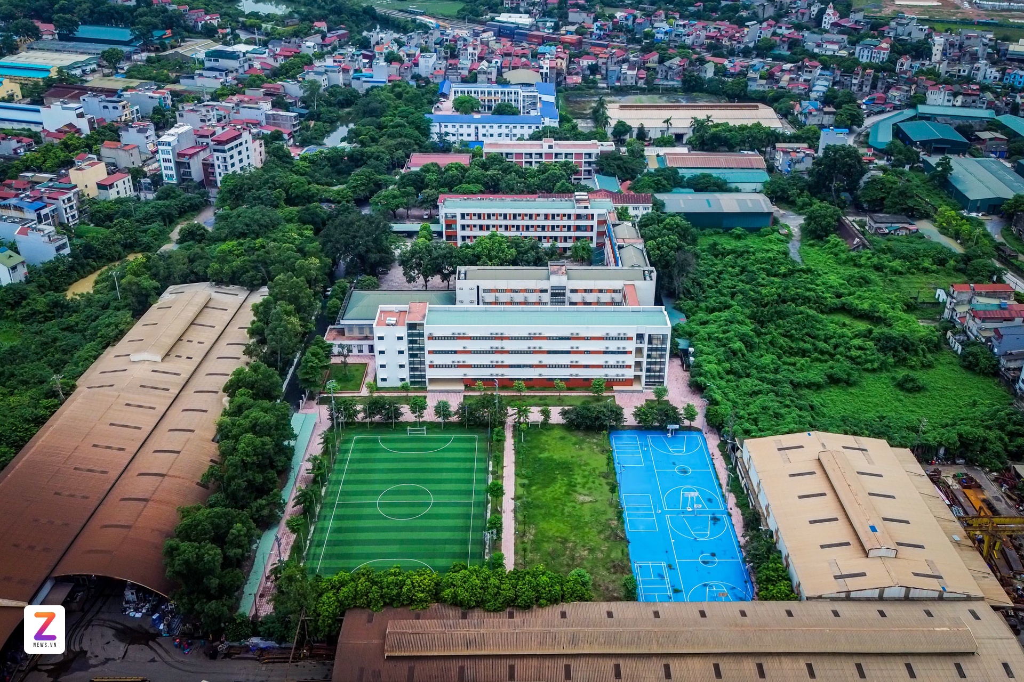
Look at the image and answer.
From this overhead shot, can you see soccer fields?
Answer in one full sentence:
Yes, a soccer field is visible in the scene.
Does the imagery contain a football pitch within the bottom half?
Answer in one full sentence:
Yes, a football pitch can be seen within the bottom half.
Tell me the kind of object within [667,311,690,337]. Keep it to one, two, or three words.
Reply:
shed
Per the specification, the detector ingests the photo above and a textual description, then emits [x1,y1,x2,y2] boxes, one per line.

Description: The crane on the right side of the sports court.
[964,514,1024,547]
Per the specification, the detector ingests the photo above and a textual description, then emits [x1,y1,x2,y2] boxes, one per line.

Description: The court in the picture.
[611,431,761,608]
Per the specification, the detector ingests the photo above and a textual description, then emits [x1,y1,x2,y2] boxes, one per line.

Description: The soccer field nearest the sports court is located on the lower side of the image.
[297,428,489,597]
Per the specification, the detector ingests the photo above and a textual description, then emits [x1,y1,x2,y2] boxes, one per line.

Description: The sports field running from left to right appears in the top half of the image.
[567,91,728,118]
